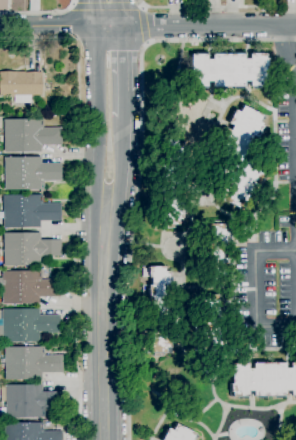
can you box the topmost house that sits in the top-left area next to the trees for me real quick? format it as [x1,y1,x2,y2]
[0,70,43,96]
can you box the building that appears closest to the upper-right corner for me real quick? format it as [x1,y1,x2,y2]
[194,52,271,86]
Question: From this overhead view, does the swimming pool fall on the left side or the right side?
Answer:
right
